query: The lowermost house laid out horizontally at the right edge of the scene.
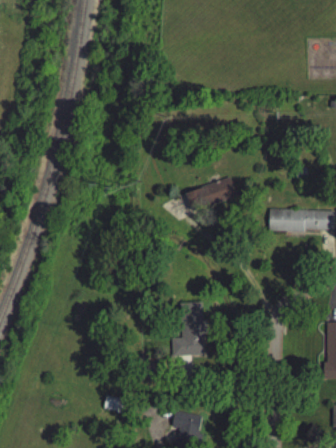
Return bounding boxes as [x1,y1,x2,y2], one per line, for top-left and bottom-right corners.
[269,208,335,232]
